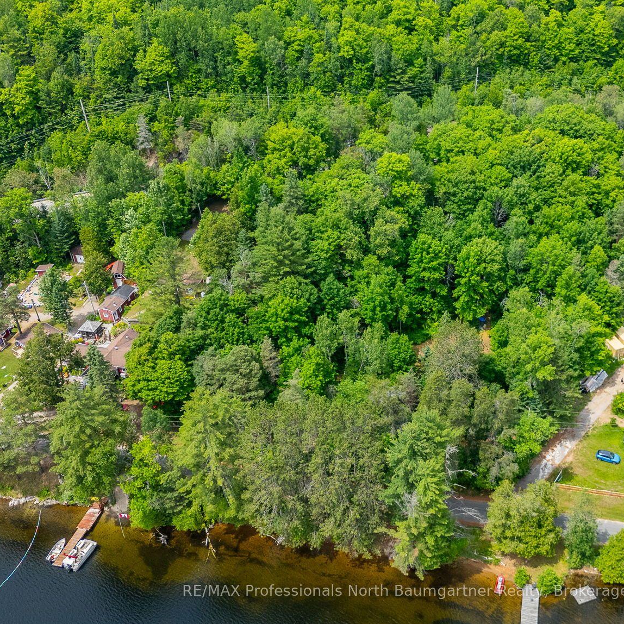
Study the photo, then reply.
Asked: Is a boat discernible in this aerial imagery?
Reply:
Yes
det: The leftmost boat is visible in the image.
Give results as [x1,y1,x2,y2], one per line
[48,538,65,565]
